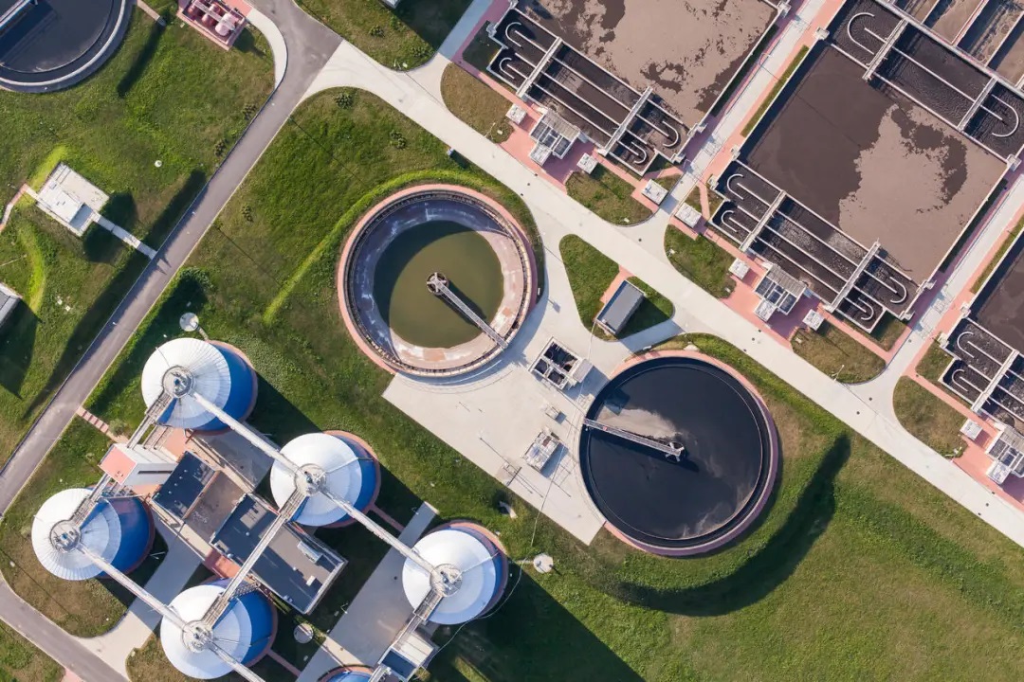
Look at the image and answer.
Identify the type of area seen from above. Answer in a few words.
industrial area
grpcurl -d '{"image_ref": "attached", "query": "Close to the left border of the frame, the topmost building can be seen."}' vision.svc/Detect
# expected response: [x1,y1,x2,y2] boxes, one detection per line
[37,162,113,238]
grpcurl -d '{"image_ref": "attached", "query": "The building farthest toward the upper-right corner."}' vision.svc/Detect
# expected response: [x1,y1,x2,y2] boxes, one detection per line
[753,259,810,321]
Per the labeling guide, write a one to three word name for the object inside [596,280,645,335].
building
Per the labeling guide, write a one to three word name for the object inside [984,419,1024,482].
building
